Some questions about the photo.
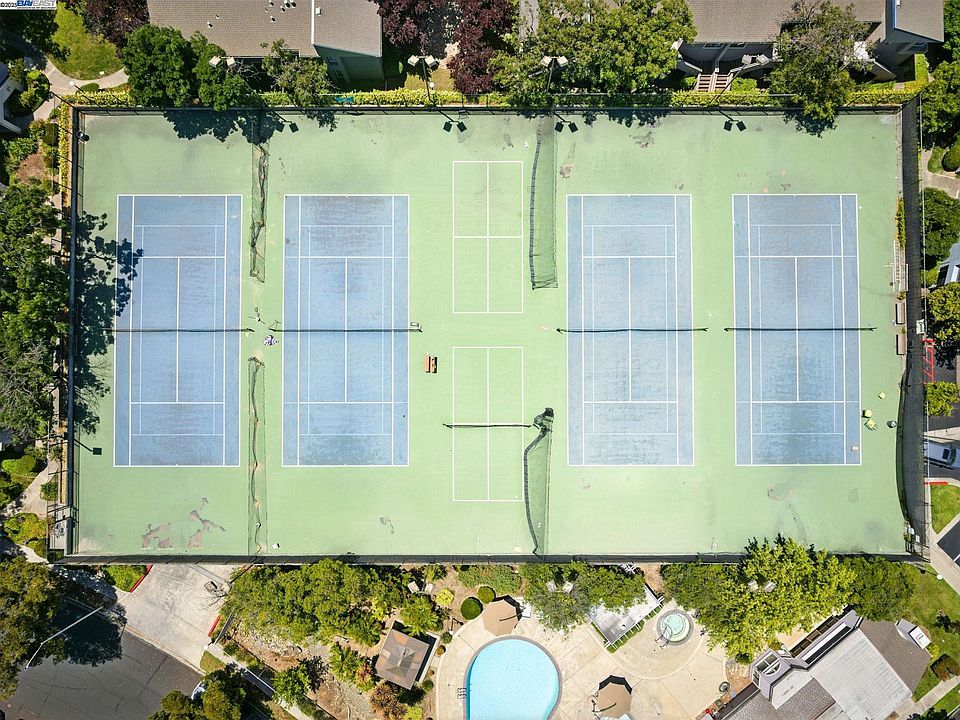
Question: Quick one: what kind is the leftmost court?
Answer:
tennis court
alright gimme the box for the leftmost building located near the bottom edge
[374,620,442,689]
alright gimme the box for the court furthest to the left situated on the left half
[113,195,242,467]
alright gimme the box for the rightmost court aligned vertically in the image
[733,195,862,466]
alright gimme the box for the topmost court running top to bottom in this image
[453,160,523,314]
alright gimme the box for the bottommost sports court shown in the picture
[452,346,523,502]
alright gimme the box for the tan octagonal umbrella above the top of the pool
[482,597,530,635]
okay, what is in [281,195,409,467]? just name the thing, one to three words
tennis court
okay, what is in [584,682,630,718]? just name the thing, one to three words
umbrella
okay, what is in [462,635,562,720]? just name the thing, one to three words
swimming pool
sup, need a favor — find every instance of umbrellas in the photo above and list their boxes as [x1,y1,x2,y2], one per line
[482,597,530,635]
[584,682,630,718]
